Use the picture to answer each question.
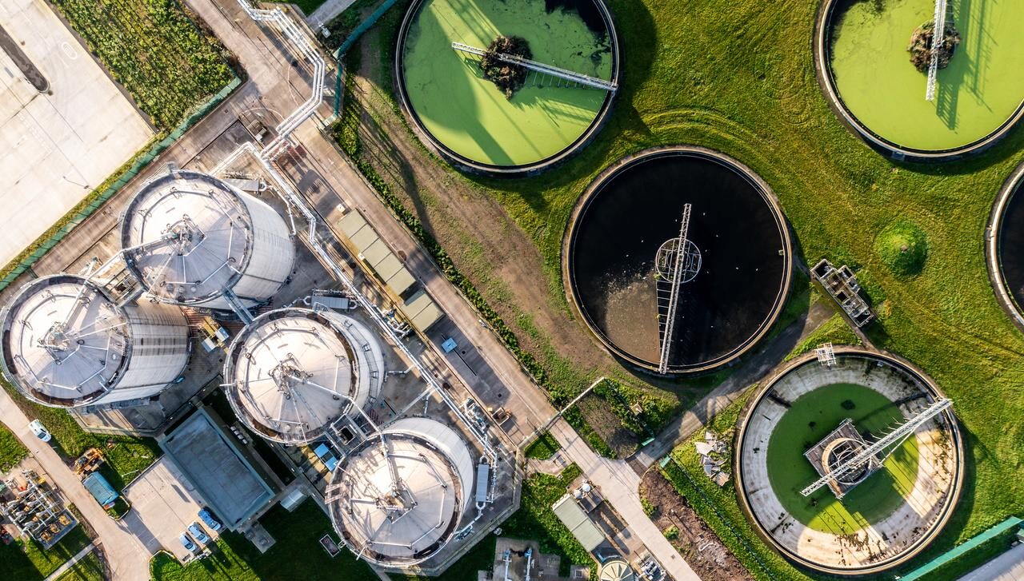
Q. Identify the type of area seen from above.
industrial area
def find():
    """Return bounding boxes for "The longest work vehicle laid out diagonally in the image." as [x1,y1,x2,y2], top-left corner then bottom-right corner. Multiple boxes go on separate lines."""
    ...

[70,441,110,483]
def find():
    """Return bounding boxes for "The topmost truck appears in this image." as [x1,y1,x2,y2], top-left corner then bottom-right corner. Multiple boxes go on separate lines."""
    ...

[27,418,54,443]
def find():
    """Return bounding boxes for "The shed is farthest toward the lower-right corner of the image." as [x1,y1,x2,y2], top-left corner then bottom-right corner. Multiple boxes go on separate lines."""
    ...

[551,490,606,552]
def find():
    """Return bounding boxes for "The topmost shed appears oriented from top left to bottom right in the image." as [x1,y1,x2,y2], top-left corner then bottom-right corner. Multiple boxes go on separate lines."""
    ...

[338,208,418,295]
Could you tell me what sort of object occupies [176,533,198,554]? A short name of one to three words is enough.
car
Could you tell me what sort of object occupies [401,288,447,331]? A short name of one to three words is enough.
shed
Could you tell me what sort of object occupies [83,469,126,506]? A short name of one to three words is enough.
shed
